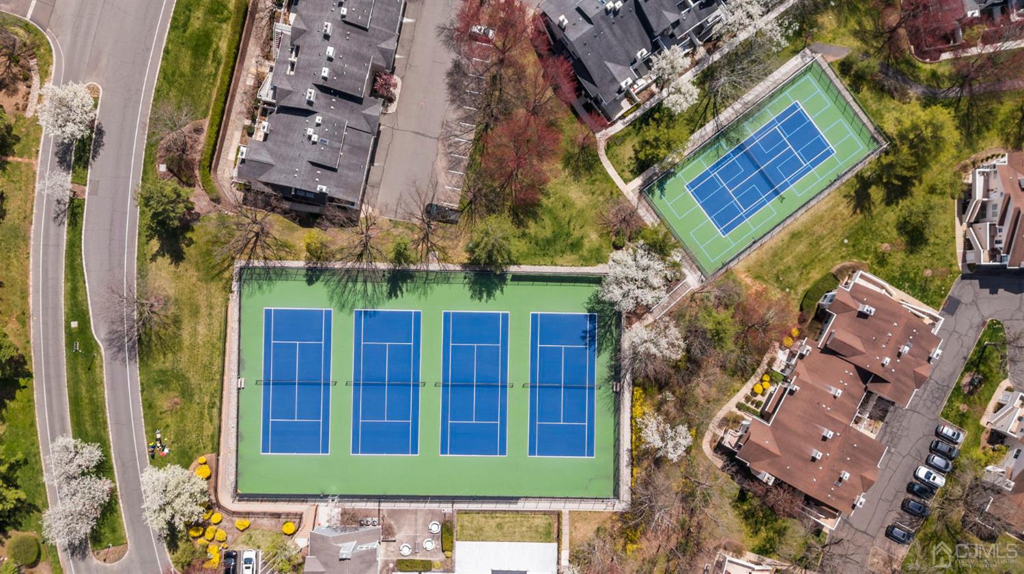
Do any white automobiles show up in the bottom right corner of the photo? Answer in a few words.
Yes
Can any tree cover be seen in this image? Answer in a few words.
Yes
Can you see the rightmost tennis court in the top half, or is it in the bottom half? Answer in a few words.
top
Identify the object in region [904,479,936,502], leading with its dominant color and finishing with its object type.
black car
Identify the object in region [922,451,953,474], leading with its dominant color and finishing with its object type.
gray car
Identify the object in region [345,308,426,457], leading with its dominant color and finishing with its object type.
blue tennis court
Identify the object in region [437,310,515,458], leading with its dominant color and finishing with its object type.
blue tennis court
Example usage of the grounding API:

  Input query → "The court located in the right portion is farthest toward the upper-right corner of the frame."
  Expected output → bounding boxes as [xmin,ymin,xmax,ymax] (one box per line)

[647,64,879,272]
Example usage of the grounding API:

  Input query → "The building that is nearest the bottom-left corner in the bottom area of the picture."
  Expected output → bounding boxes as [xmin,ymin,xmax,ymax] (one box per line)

[305,520,383,574]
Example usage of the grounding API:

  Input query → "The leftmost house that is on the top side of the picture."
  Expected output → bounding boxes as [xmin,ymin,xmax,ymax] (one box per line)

[232,0,414,214]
